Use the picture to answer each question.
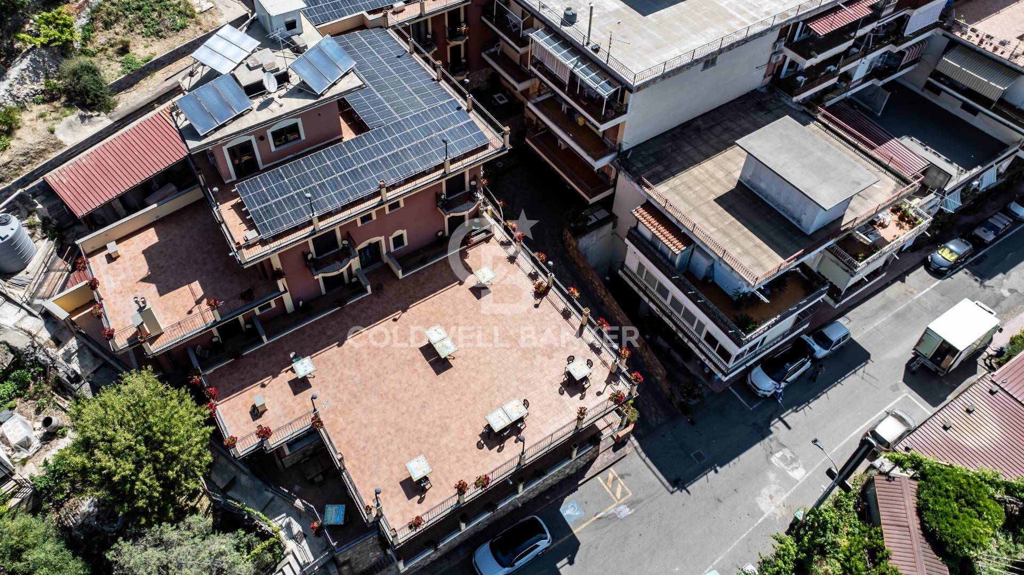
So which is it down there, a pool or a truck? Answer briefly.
truck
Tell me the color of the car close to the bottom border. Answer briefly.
black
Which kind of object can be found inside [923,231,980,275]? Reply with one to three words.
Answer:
car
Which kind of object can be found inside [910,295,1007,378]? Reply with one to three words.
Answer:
truck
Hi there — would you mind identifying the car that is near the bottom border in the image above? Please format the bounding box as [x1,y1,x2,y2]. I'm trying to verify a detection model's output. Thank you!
[467,514,554,575]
